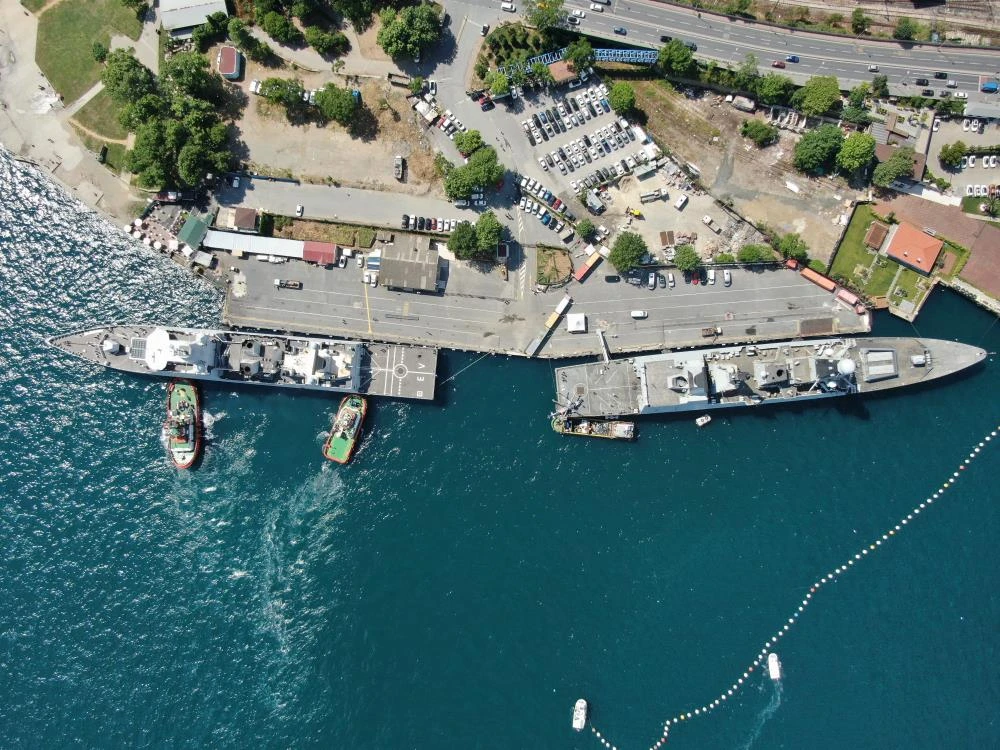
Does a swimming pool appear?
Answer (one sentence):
No, I find no swimming pool anywhere in the image.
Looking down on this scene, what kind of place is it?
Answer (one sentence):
This image shows a port.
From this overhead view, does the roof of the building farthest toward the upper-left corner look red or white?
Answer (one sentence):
The color of the roof of the building farthest toward the upper-left corner is white.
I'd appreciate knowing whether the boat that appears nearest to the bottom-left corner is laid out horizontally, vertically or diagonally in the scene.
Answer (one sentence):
What the image shows is the boat that appears nearest to the bottom-left corner lying vertically.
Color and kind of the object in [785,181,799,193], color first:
white vehicle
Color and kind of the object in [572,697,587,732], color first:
white boat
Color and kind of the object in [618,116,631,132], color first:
white vehicle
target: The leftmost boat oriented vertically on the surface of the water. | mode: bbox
[165,378,201,469]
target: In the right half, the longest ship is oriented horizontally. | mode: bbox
[554,337,994,419]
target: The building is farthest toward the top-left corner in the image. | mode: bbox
[160,0,233,38]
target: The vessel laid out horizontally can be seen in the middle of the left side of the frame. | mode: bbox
[45,324,439,401]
